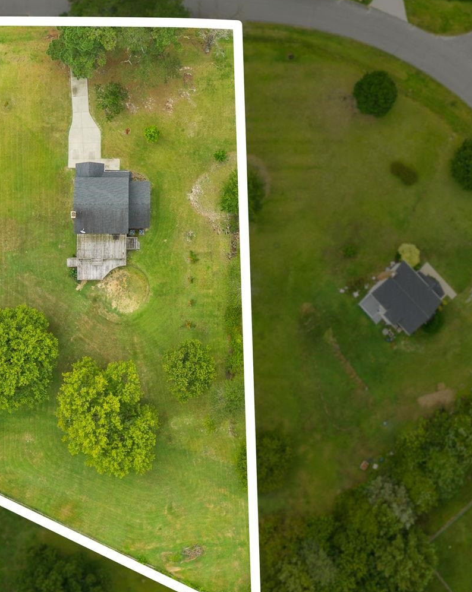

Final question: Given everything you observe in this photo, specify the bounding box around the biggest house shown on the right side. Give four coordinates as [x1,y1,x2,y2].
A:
[358,260,445,335]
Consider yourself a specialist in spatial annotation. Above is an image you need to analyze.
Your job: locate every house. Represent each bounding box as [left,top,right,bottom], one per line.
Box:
[71,160,151,234]
[358,260,445,335]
